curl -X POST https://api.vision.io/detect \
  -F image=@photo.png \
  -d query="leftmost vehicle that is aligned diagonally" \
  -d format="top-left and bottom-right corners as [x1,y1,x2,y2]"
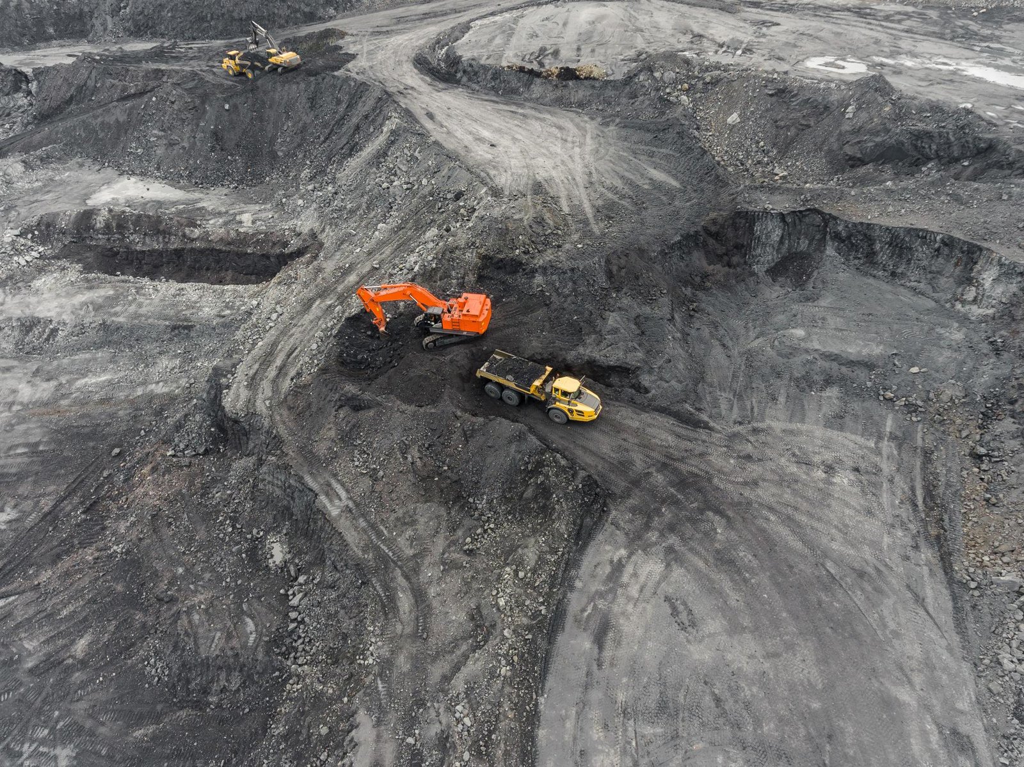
[247,17,301,73]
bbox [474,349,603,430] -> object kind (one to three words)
truck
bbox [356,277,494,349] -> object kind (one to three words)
work vehicle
